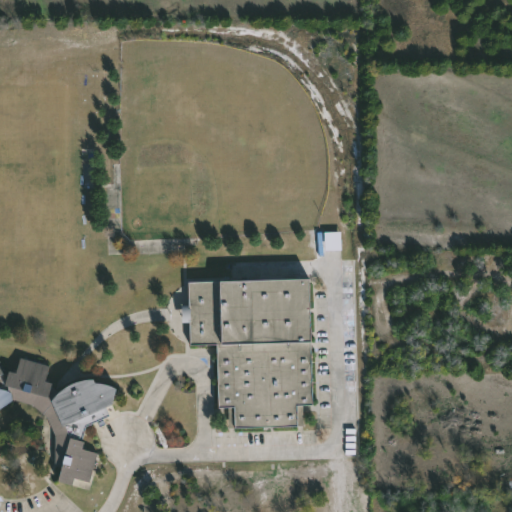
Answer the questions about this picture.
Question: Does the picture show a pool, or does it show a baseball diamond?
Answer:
baseball diamond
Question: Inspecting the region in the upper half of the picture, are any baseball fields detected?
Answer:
Yes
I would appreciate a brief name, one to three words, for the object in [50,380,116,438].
building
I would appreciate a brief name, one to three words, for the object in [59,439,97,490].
building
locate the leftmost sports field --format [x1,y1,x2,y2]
[0,82,67,324]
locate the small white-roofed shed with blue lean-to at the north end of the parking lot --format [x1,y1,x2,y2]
[318,232,342,256]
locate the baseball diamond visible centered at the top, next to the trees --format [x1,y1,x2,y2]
[121,41,328,238]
